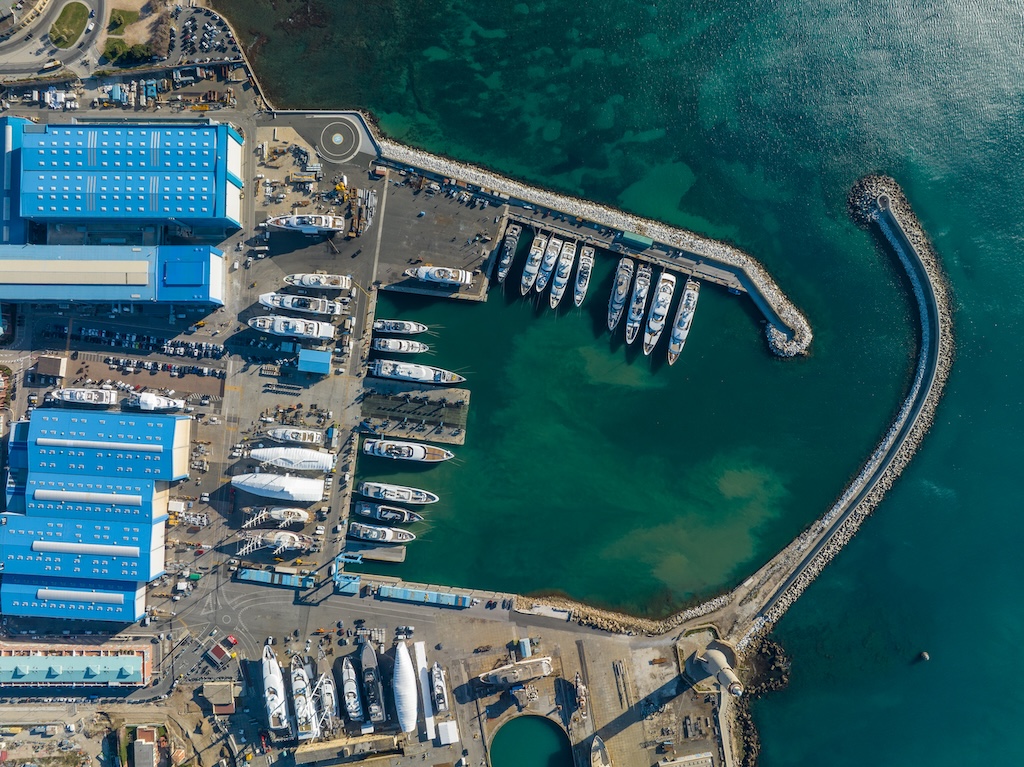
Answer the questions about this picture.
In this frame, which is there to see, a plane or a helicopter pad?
helicopter pad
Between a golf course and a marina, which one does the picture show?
marina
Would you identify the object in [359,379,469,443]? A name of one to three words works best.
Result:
pier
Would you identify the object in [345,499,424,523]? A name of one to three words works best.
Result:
boat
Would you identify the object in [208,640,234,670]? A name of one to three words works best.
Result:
building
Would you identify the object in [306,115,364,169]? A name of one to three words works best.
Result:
helipad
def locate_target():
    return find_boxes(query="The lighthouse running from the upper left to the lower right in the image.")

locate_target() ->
[697,641,742,696]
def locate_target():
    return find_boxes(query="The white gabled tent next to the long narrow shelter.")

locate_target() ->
[438,718,459,745]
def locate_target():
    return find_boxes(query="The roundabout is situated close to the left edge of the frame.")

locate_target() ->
[47,0,91,50]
